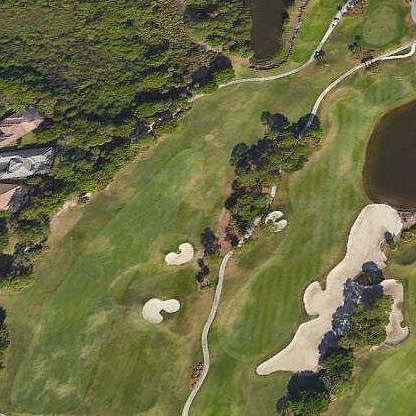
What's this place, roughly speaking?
golf course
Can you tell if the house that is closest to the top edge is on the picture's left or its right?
left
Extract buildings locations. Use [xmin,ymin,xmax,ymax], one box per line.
[0,186,19,215]
[0,148,54,184]
[0,107,44,152]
